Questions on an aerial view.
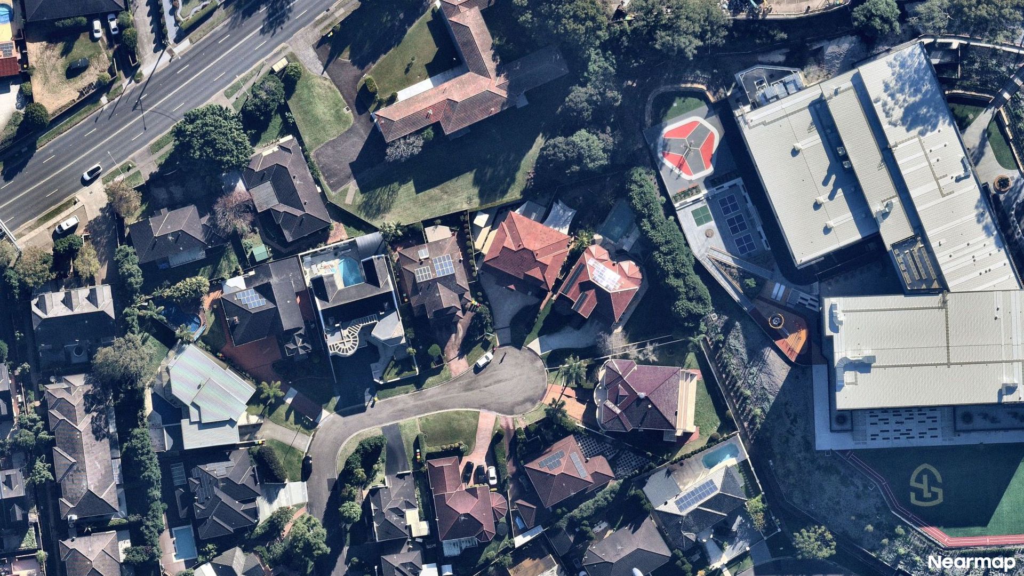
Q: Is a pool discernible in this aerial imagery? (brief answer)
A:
Yes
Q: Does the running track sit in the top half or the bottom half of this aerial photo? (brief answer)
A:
bottom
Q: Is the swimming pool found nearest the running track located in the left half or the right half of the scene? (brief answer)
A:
right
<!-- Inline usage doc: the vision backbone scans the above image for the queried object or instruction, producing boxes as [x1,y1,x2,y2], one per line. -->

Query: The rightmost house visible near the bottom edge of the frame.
[643,464,749,553]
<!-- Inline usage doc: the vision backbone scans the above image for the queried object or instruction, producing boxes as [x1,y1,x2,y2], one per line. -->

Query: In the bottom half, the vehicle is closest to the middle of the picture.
[474,352,494,368]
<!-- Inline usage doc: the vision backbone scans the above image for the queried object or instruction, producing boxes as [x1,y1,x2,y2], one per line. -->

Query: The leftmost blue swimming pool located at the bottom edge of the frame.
[174,526,196,561]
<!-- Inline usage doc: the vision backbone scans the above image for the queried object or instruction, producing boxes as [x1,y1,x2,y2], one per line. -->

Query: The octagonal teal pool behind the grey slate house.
[701,442,741,470]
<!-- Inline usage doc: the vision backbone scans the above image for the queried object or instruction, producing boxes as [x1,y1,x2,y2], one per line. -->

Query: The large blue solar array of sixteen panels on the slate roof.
[675,480,717,512]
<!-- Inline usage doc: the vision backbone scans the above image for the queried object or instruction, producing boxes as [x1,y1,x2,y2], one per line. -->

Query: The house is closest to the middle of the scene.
[484,210,570,297]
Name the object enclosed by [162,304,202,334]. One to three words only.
swimming pool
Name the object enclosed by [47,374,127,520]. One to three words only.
house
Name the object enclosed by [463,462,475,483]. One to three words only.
vehicle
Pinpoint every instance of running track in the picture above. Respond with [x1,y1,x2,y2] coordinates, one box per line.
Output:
[837,451,1024,547]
